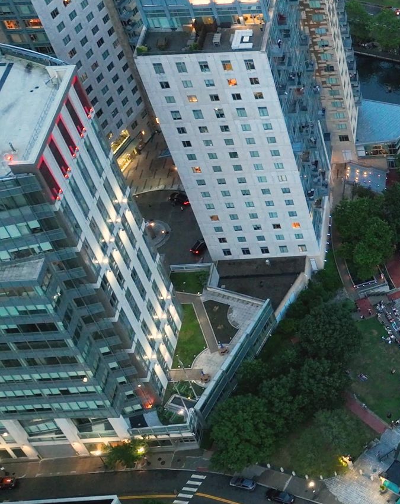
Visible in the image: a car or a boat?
car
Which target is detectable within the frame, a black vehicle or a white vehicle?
black vehicle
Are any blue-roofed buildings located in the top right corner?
Yes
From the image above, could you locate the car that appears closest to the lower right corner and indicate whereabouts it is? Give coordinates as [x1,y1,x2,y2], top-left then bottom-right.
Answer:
[262,485,297,504]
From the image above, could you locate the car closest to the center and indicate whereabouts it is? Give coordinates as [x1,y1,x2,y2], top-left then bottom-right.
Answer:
[184,235,209,256]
